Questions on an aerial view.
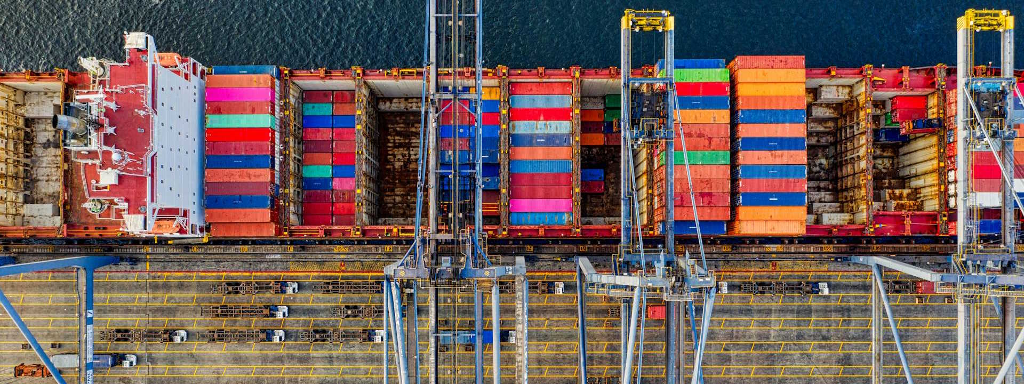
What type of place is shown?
port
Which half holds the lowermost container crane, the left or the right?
left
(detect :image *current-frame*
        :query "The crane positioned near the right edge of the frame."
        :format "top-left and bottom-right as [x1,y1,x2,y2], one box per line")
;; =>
[815,6,1024,384]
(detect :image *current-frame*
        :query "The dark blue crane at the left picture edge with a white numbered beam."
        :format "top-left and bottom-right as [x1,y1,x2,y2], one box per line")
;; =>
[0,256,156,384]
